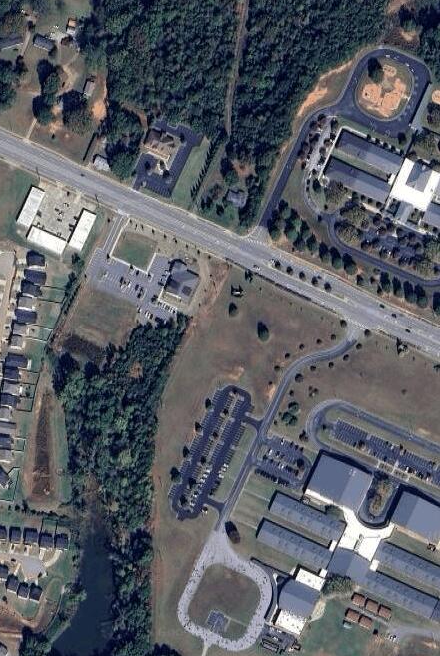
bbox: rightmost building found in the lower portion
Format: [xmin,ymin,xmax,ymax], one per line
[391,493,440,552]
